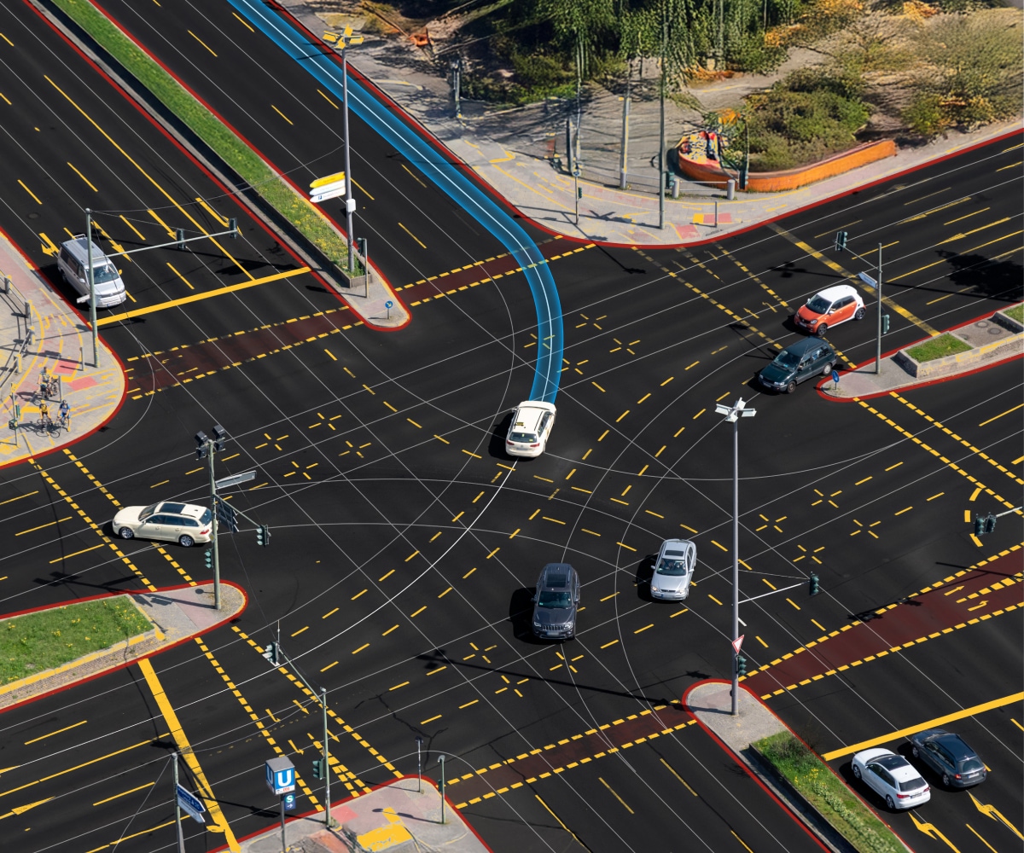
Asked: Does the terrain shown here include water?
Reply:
No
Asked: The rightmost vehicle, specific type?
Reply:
automobile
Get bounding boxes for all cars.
[508,398,560,457]
[114,500,212,547]
[853,751,929,810]
[796,284,867,337]
[758,337,836,396]
[909,729,990,792]
[649,541,695,600]
[528,563,579,639]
